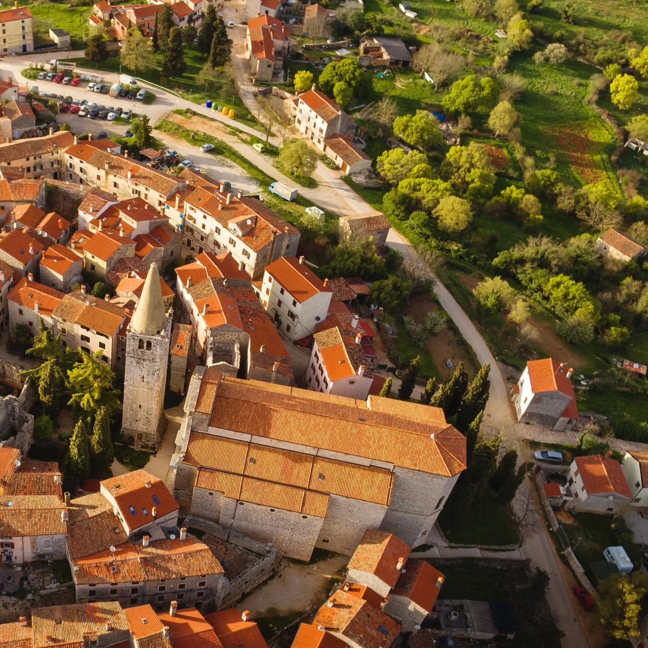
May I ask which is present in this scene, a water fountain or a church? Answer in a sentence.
There is a church in the scene.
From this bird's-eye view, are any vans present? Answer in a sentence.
Yes, this view includes a van.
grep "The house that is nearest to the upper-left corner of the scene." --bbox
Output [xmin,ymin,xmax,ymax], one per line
[0,0,33,58]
